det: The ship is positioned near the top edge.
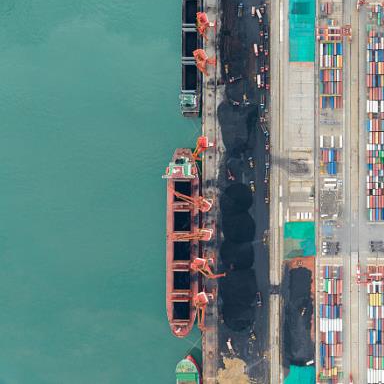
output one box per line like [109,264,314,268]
[180,0,202,118]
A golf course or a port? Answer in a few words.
port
